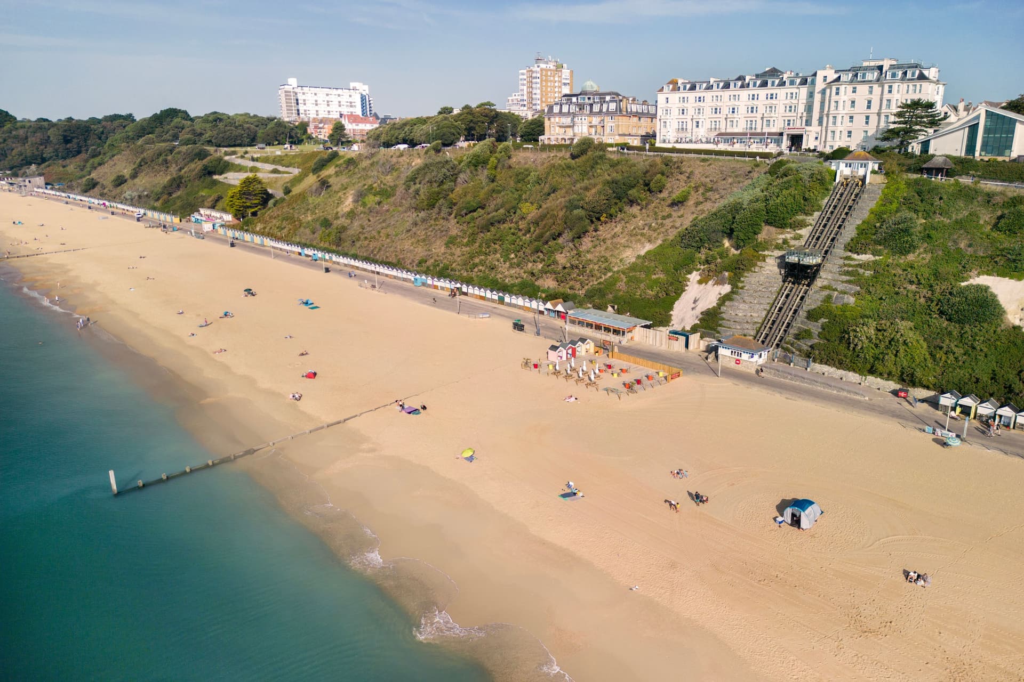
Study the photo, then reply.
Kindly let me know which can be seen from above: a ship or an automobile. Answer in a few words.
automobile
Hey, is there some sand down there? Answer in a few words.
Yes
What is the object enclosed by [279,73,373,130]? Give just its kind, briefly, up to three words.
building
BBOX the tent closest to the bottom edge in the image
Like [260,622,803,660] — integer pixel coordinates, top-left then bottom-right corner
[784,500,831,531]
